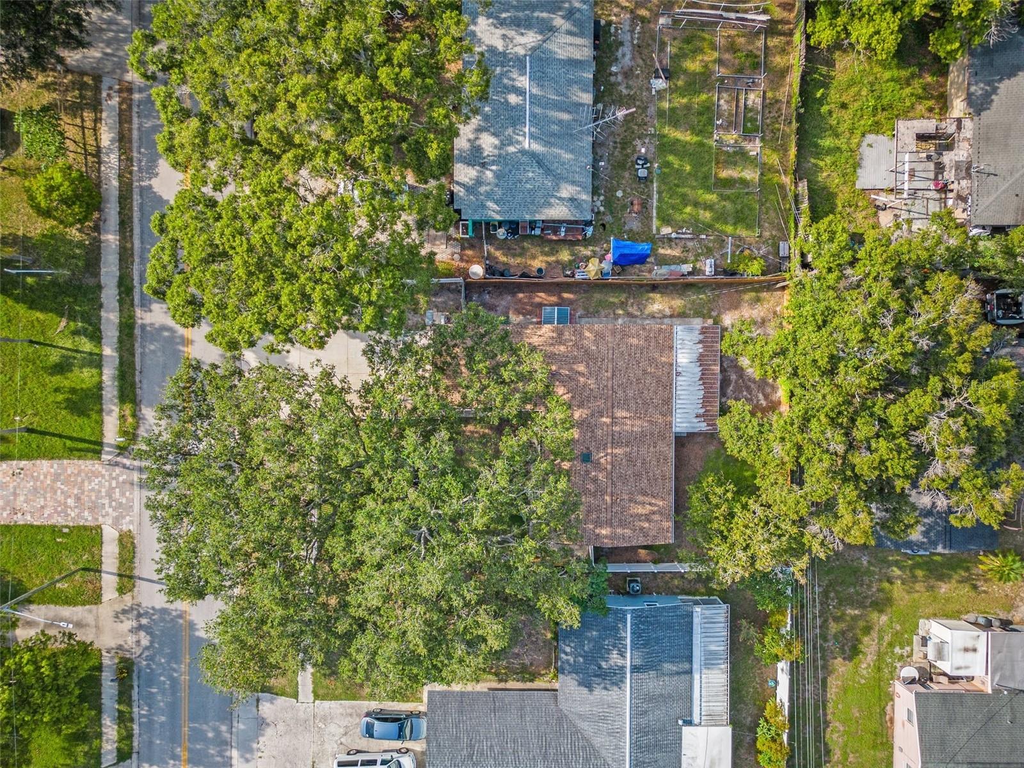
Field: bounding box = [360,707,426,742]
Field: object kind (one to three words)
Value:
car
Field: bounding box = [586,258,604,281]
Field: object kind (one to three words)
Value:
umbrella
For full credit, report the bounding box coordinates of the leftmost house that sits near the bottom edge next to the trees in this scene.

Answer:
[424,594,734,768]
